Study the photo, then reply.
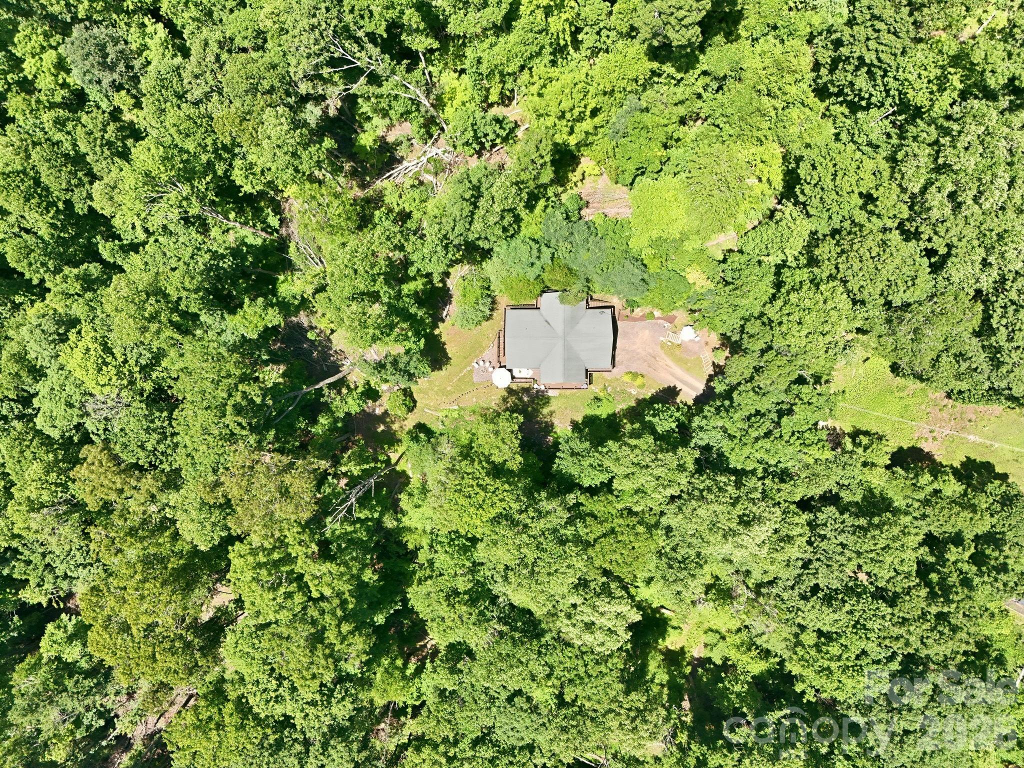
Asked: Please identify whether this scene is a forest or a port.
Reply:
forest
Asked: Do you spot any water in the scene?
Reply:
No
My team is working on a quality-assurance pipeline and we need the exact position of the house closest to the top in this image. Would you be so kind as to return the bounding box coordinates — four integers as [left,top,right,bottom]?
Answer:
[498,291,613,390]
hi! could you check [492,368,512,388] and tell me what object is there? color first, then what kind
white umbrella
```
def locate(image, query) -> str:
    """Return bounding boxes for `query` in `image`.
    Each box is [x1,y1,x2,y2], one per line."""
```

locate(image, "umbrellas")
[680,326,696,342]
[492,368,512,388]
